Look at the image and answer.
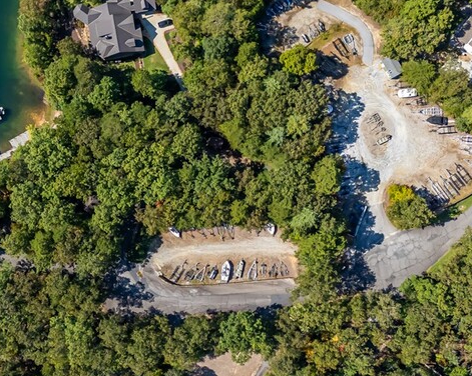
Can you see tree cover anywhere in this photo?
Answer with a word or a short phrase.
Yes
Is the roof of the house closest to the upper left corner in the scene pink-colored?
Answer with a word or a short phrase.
No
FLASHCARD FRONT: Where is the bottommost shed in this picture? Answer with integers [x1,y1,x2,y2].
[378,56,402,81]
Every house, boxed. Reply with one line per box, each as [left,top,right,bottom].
[451,19,472,56]
[72,0,158,66]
